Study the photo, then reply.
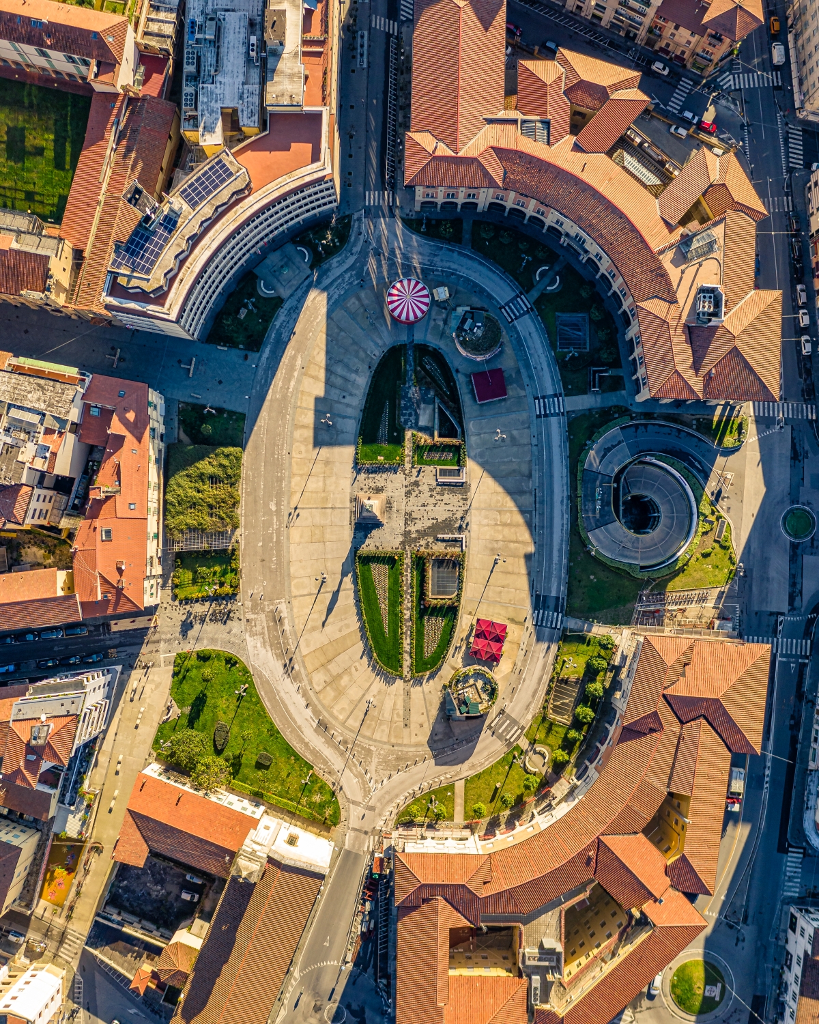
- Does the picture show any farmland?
No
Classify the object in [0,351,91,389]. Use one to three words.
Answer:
house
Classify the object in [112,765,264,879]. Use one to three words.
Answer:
building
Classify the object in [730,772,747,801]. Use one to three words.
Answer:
vehicle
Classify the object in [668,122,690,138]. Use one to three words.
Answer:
car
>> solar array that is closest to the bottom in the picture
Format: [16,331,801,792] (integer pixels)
[111,228,185,270]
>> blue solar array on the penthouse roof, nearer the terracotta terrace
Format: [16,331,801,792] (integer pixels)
[179,158,230,207]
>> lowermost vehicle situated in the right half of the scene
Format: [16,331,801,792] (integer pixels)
[648,974,661,996]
